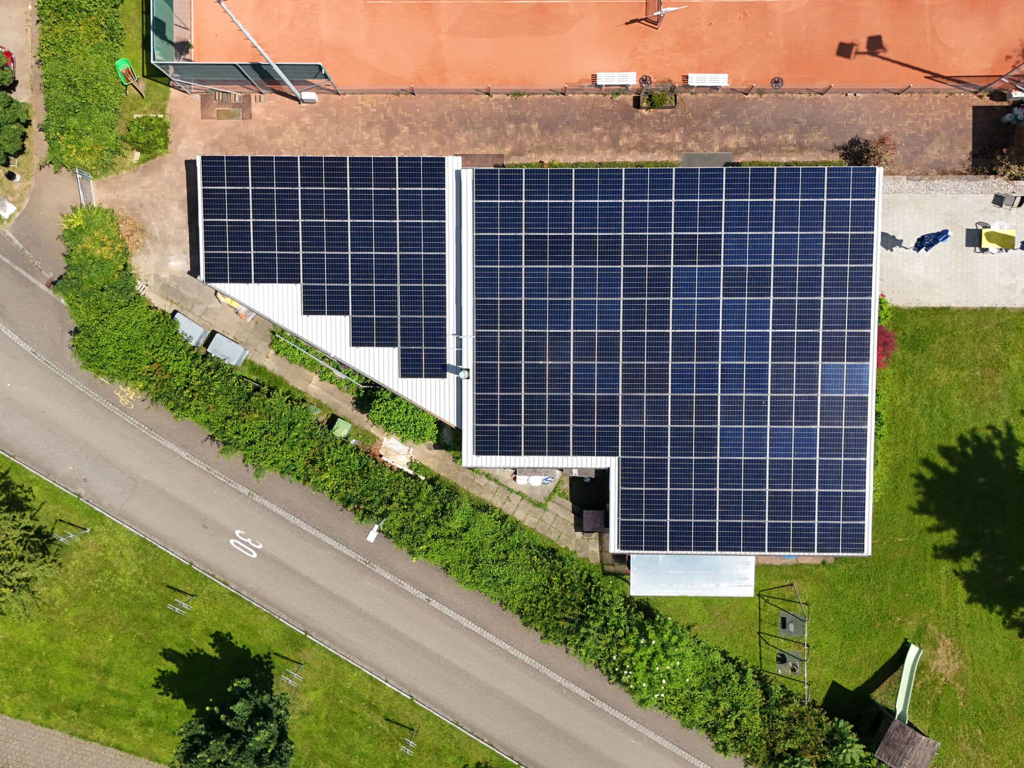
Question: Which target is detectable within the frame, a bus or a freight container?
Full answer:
Visible in the photo is a freight container.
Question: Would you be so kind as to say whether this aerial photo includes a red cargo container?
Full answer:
No, the frame has no red cargo container in it.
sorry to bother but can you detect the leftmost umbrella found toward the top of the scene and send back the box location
[902,229,953,255]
